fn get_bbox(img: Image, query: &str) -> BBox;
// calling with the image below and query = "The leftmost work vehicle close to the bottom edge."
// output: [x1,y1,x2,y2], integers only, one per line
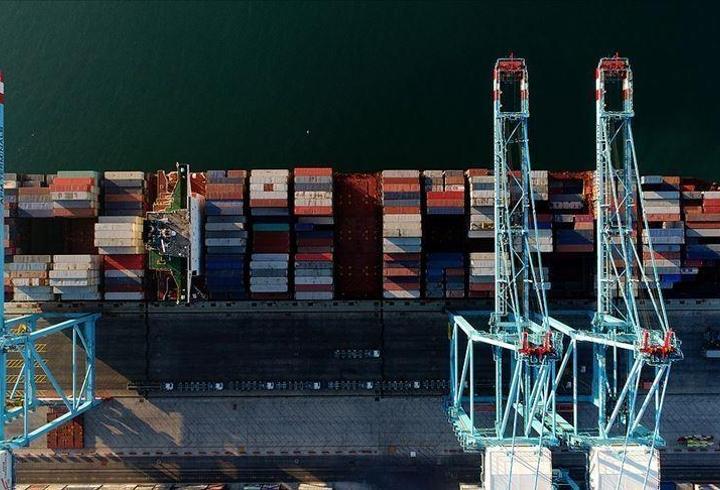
[557,459,588,490]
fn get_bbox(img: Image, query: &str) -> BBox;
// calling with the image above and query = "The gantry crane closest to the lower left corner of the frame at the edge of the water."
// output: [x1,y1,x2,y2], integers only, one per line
[0,60,104,490]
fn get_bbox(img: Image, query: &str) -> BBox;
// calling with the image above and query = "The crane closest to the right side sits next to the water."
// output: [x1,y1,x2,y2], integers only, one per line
[527,51,691,490]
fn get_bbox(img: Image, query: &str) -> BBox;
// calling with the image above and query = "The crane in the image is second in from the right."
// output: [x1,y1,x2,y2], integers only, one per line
[439,51,568,490]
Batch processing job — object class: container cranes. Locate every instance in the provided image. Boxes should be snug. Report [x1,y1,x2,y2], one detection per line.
[439,51,568,490]
[527,51,691,490]
[0,60,104,490]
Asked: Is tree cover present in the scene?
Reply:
No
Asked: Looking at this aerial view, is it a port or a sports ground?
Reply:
port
